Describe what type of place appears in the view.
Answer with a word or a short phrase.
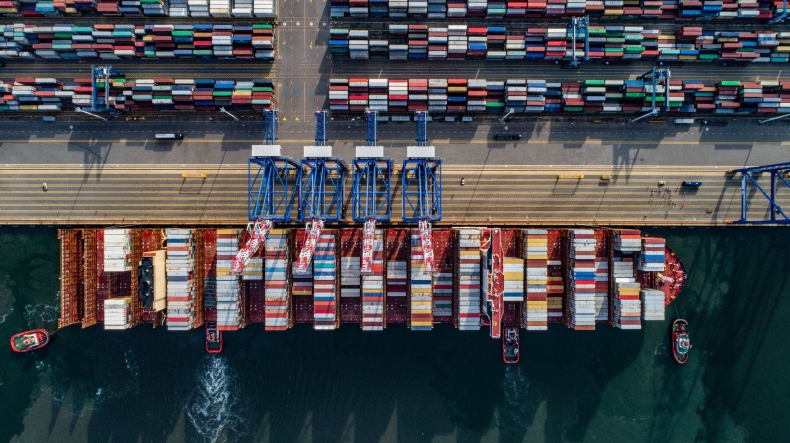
port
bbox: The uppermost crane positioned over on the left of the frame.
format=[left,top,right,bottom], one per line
[92,66,127,118]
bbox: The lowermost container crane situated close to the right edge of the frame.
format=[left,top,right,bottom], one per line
[727,159,790,223]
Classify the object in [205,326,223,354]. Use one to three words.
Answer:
boat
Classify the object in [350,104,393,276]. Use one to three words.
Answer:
container crane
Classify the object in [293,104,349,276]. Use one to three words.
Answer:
container crane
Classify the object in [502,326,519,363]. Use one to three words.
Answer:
boat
